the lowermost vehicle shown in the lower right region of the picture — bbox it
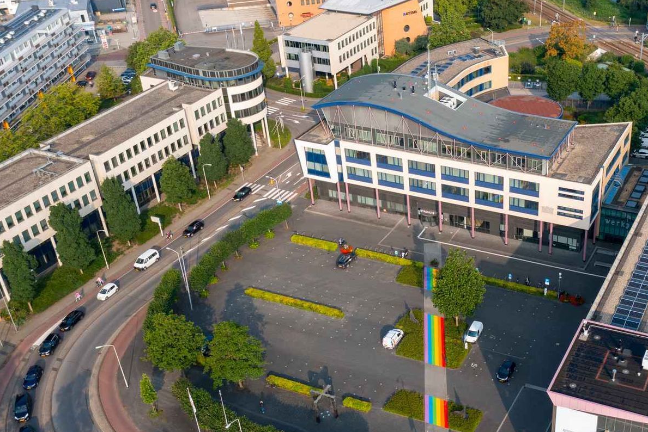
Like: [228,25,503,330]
[497,356,518,379]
